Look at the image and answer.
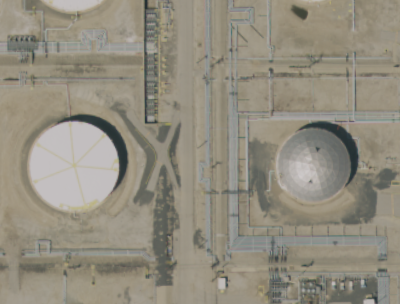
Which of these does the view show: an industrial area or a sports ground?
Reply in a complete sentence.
It's an industrial area.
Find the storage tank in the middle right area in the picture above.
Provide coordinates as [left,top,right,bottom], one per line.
[276,127,352,204]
